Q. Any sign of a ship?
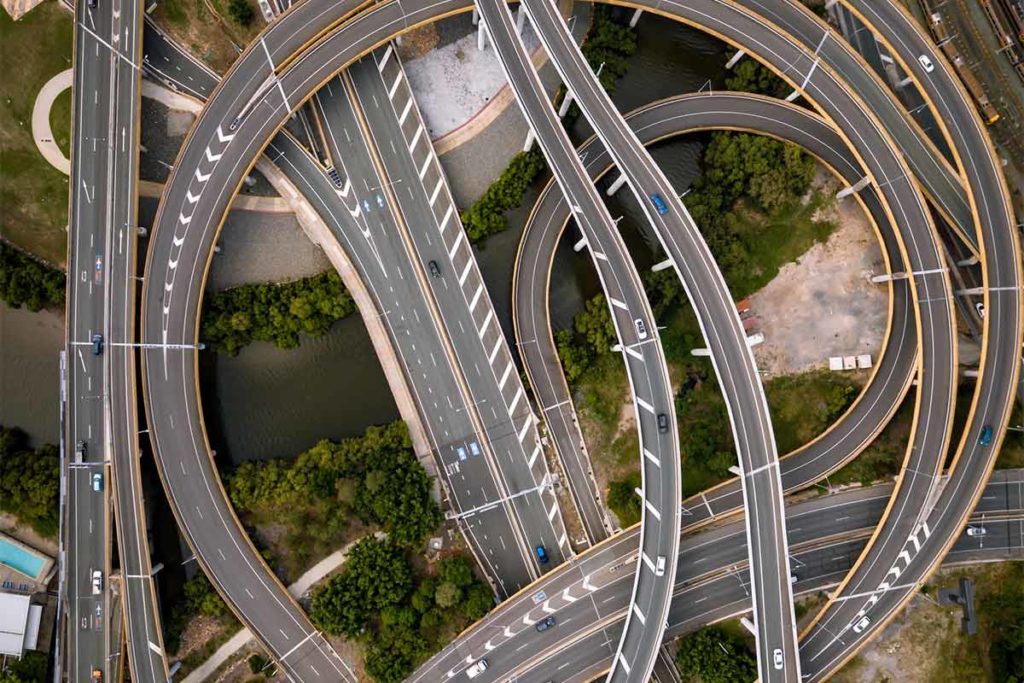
No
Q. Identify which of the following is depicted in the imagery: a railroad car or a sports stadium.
railroad car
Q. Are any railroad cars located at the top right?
Yes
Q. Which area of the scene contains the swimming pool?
bottom left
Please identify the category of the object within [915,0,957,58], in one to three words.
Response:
rail car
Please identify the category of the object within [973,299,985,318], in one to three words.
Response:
vehicle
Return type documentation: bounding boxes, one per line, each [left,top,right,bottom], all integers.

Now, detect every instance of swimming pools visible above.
[0,535,50,584]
